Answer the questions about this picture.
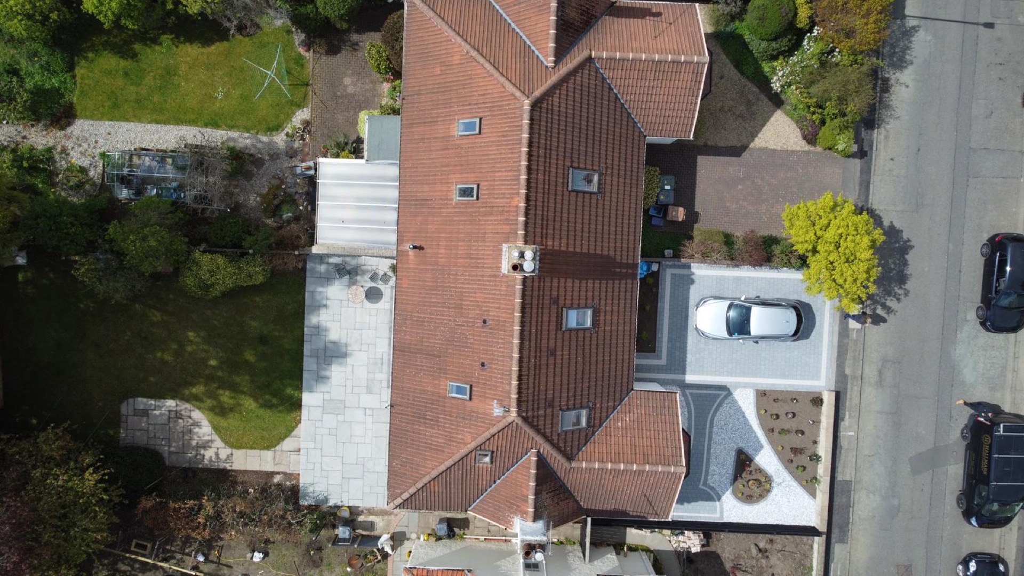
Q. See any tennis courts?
No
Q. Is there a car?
Yes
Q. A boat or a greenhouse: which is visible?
greenhouse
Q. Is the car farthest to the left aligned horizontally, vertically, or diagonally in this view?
horizontally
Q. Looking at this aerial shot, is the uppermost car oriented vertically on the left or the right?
right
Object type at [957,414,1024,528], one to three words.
van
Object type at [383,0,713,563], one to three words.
house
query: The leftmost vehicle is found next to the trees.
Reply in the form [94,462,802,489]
[690,292,803,346]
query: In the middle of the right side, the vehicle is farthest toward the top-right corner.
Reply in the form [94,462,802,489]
[976,231,1024,333]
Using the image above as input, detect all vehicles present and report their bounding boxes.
[976,231,1024,333]
[690,292,803,346]
[950,554,1007,576]
[957,414,1024,528]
